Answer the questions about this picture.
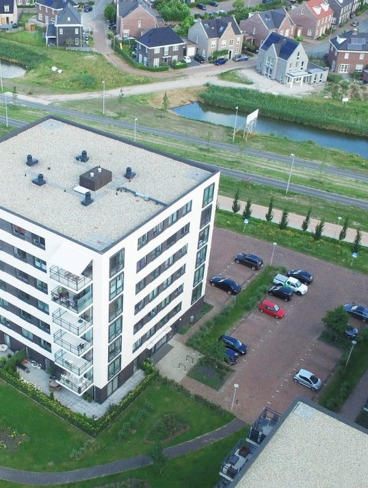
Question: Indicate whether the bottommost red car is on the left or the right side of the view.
right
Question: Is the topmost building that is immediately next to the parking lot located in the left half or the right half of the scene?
left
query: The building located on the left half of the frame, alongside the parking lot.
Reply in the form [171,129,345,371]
[0,116,220,402]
